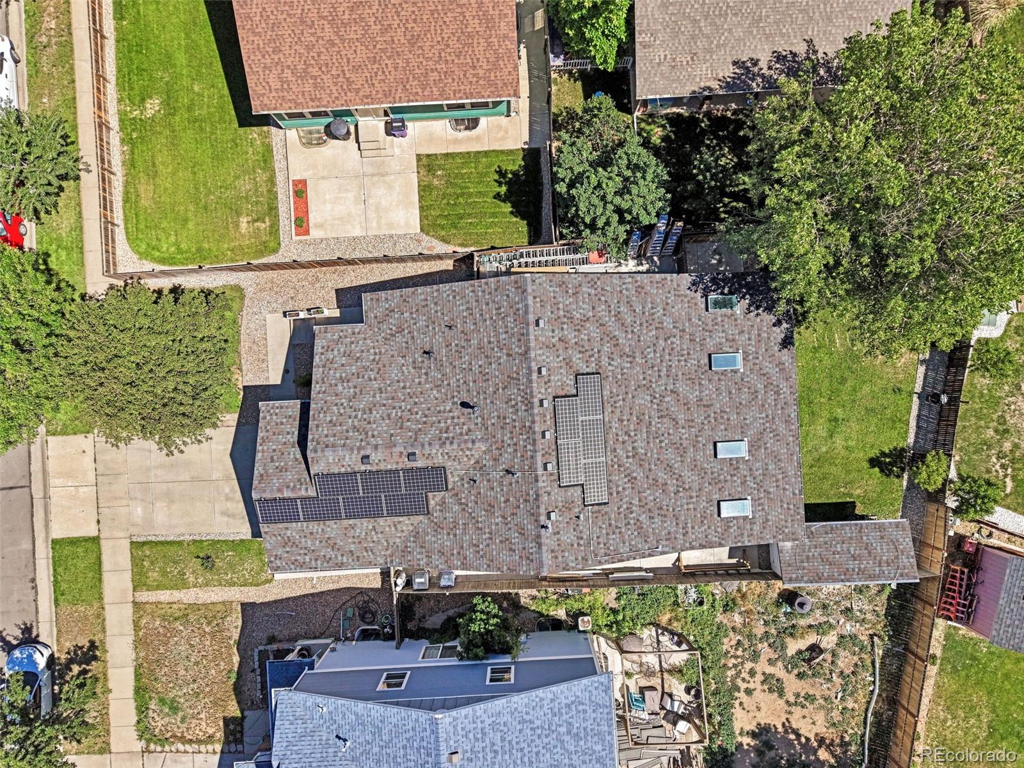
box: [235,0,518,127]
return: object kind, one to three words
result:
house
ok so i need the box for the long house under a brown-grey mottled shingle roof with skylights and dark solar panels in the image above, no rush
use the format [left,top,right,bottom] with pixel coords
[253,270,808,575]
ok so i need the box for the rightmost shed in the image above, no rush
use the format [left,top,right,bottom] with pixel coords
[966,548,1024,654]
